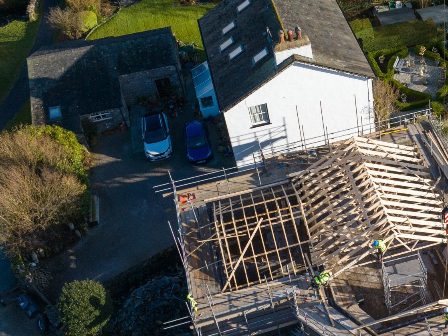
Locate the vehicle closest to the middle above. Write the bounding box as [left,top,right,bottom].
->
[180,116,211,160]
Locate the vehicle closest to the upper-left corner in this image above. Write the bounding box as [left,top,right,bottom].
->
[142,108,175,154]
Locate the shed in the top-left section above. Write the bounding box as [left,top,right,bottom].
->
[24,30,185,153]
